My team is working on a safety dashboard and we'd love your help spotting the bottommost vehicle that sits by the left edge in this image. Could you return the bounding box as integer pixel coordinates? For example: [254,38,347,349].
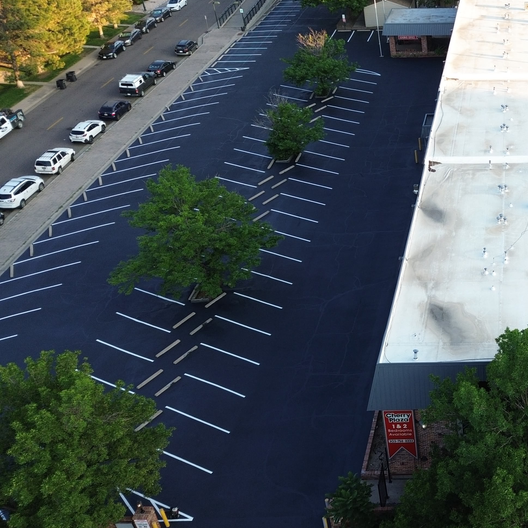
[0,179,42,213]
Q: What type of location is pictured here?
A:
parking lot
